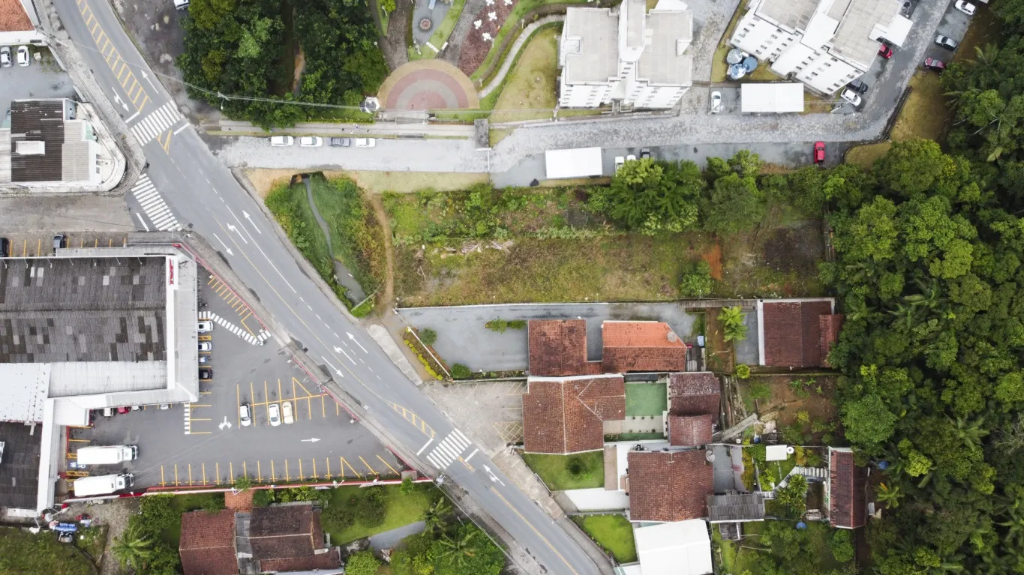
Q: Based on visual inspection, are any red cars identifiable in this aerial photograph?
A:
Yes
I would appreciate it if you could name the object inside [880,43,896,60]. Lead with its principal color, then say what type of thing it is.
red car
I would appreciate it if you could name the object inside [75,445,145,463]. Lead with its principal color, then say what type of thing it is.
white vehicle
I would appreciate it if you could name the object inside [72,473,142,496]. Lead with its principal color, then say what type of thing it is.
white truck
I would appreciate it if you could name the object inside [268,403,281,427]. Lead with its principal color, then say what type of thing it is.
white vehicle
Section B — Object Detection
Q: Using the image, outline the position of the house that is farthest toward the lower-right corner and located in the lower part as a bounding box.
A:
[820,443,866,530]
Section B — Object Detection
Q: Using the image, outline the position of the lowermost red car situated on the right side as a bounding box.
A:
[813,142,825,163]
